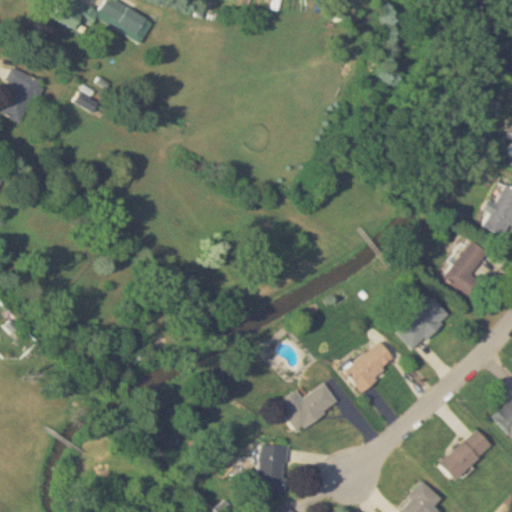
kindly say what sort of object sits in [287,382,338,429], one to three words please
house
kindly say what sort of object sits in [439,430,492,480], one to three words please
house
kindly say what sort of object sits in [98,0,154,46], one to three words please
barn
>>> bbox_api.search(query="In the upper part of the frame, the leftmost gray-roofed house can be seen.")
[1,68,44,124]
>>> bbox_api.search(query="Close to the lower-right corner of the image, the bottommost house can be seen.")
[402,480,444,512]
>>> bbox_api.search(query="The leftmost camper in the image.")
[77,84,94,98]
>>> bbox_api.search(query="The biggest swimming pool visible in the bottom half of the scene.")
[266,326,317,383]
